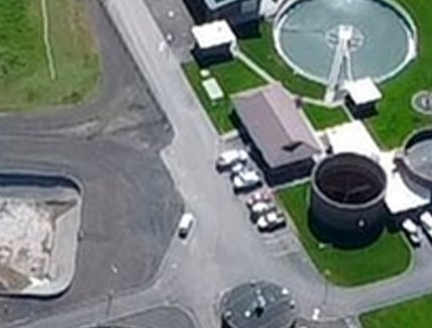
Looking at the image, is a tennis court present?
No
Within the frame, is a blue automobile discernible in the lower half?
No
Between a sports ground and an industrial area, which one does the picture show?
industrial area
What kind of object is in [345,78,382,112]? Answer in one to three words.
shed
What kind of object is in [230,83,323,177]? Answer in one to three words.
house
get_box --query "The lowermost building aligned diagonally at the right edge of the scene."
[325,120,432,221]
